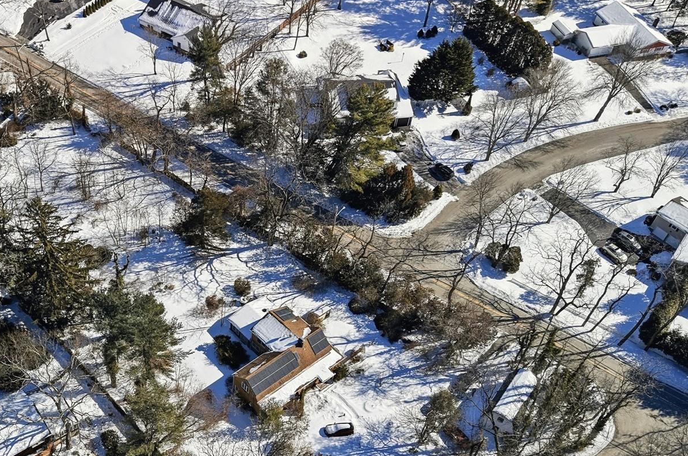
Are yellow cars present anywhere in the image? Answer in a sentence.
No, the photo shows no yellow car.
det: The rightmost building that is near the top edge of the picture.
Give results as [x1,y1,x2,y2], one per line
[569,1,674,65]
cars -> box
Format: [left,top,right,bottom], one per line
[429,163,454,176]
[602,239,627,261]
[620,227,643,249]
[396,136,413,152]
[324,422,356,438]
